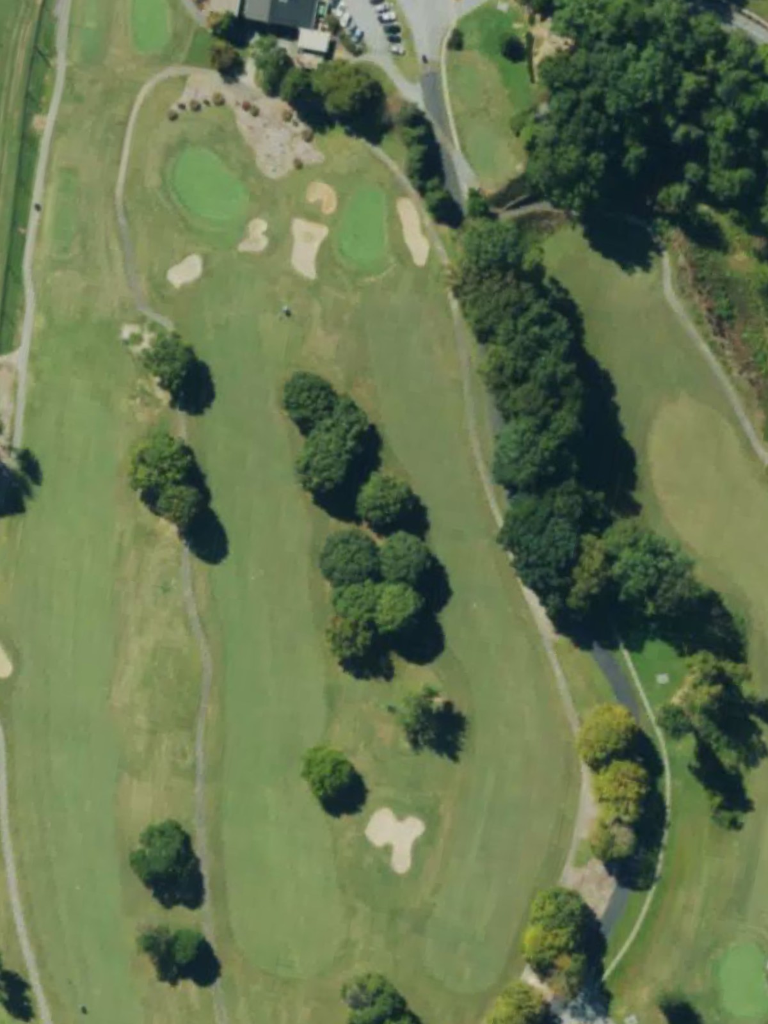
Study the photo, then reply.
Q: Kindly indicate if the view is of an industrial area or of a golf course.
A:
golf course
